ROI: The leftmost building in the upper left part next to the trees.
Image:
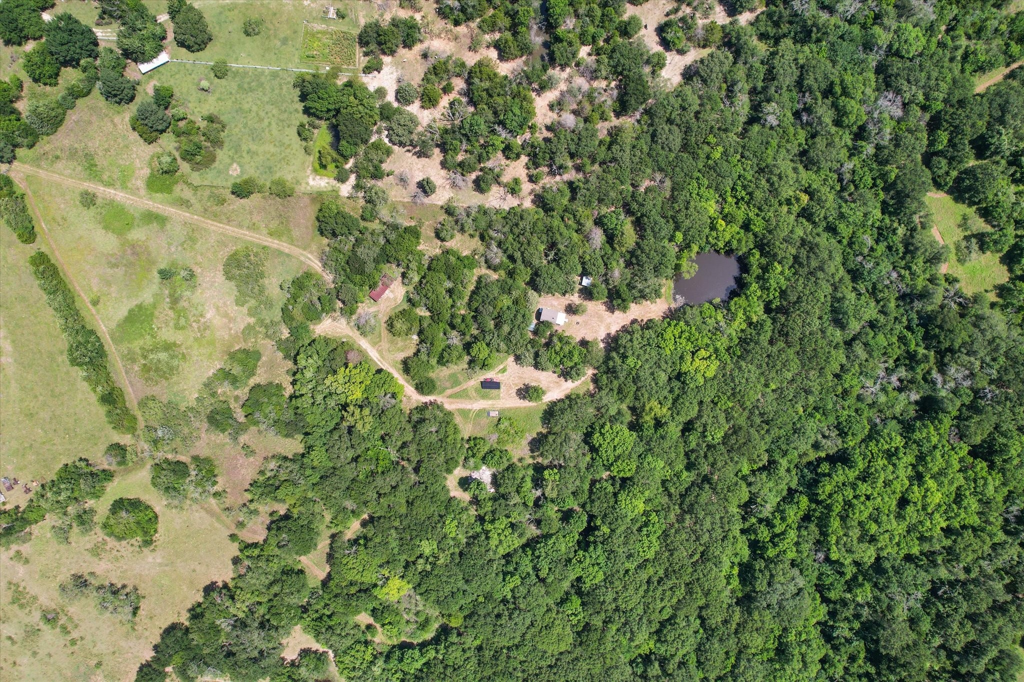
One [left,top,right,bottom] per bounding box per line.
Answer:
[138,51,172,76]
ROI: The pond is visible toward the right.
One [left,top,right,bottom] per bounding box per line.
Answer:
[673,251,740,306]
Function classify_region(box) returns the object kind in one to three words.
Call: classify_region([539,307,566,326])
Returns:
building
